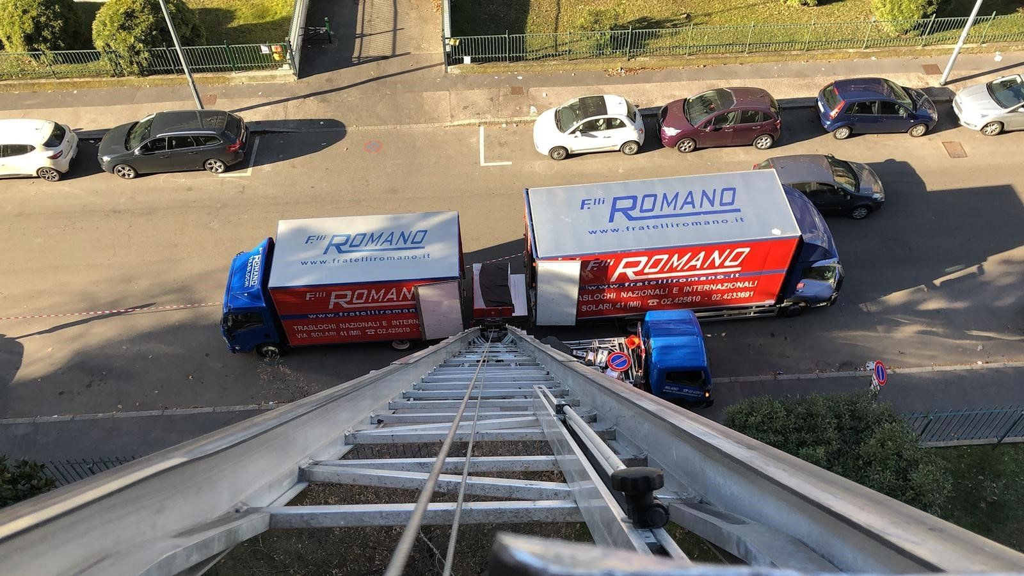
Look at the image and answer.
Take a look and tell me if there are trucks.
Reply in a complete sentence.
Yes, the photo shows a truck.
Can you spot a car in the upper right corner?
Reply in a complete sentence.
Yes, a car shows up in the upper right corner.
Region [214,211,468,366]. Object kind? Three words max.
truck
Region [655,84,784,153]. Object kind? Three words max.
car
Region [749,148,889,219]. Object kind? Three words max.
car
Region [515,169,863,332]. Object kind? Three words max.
truck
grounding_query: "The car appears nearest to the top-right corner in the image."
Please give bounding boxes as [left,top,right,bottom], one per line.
[953,71,1024,136]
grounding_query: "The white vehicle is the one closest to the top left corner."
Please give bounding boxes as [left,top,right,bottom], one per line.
[0,115,78,181]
